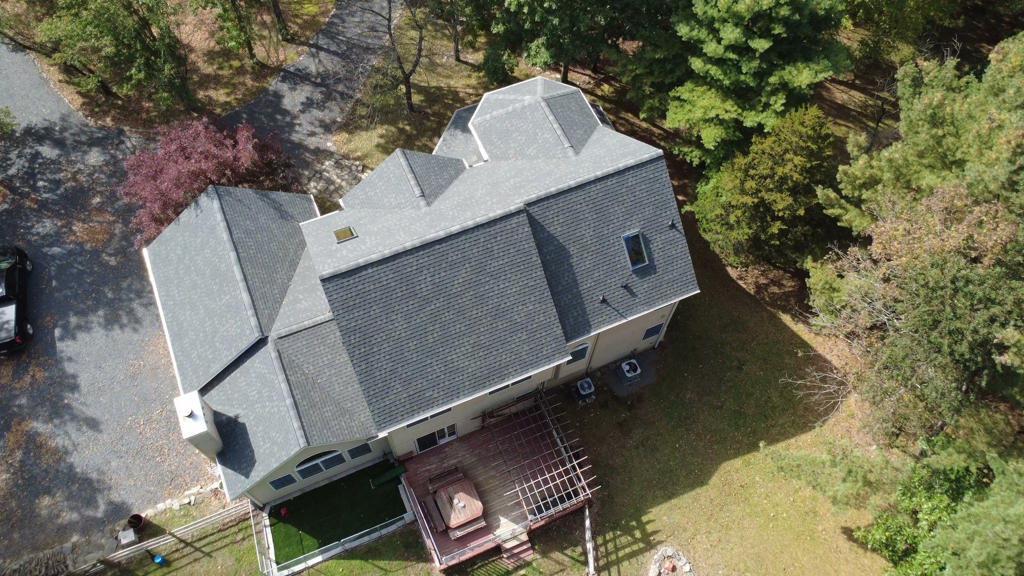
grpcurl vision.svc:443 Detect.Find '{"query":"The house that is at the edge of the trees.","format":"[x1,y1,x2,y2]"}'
[141,75,700,511]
